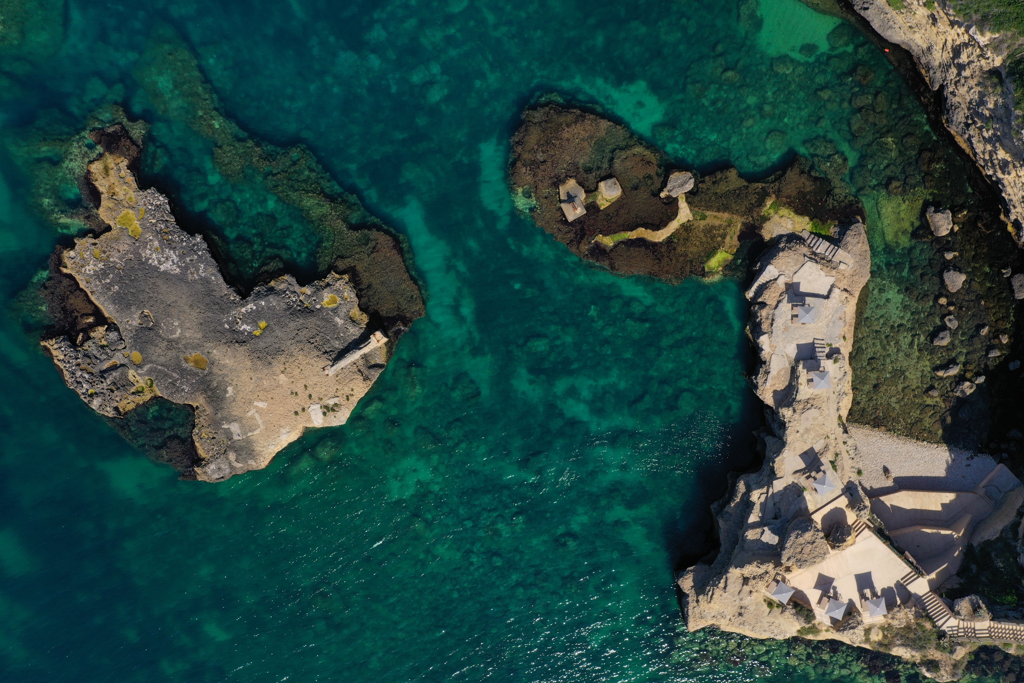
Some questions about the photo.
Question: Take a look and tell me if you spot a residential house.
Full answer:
No, this view has no residential house in it.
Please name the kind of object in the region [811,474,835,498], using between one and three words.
umbrella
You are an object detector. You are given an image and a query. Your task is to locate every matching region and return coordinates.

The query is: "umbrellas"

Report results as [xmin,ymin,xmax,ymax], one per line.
[797,306,815,324]
[811,474,835,498]
[824,598,847,621]
[866,597,887,618]
[770,581,794,605]
[812,371,831,390]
